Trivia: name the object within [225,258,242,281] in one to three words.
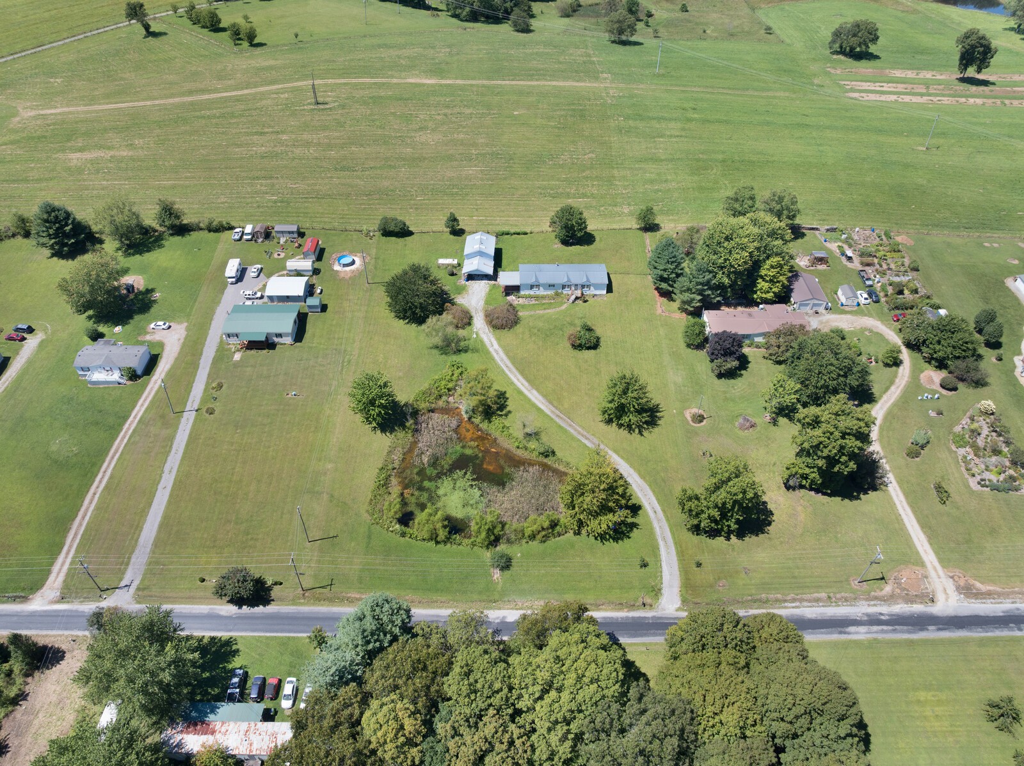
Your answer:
camper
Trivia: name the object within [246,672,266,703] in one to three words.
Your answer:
car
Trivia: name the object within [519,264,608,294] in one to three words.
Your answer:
house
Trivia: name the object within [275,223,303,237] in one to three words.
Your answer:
shed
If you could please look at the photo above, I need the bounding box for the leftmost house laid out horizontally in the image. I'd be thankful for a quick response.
[73,344,155,376]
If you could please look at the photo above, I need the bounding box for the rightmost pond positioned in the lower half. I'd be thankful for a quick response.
[396,411,567,538]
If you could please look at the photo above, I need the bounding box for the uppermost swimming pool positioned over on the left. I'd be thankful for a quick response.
[335,256,355,271]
